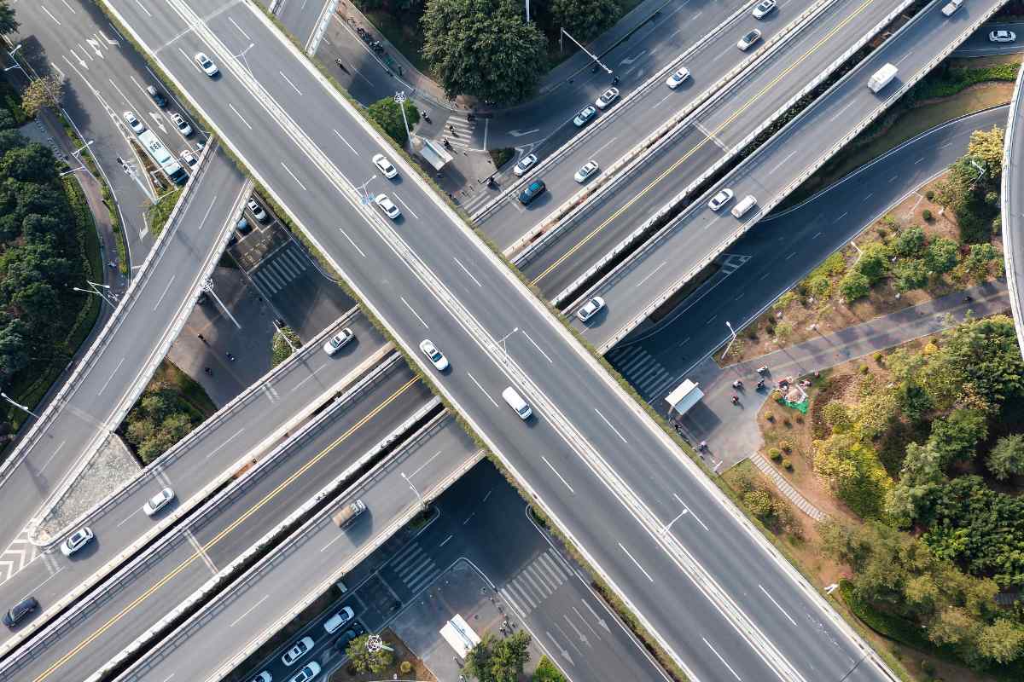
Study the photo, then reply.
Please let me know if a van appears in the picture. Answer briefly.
Yes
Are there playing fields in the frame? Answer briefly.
No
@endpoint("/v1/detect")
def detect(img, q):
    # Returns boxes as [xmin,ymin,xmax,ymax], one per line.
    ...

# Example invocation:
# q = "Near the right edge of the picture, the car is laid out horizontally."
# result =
[987,30,1015,43]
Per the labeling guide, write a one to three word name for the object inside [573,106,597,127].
car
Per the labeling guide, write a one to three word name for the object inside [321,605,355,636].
van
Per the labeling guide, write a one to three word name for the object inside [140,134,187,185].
bus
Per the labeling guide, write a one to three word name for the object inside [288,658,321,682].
car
